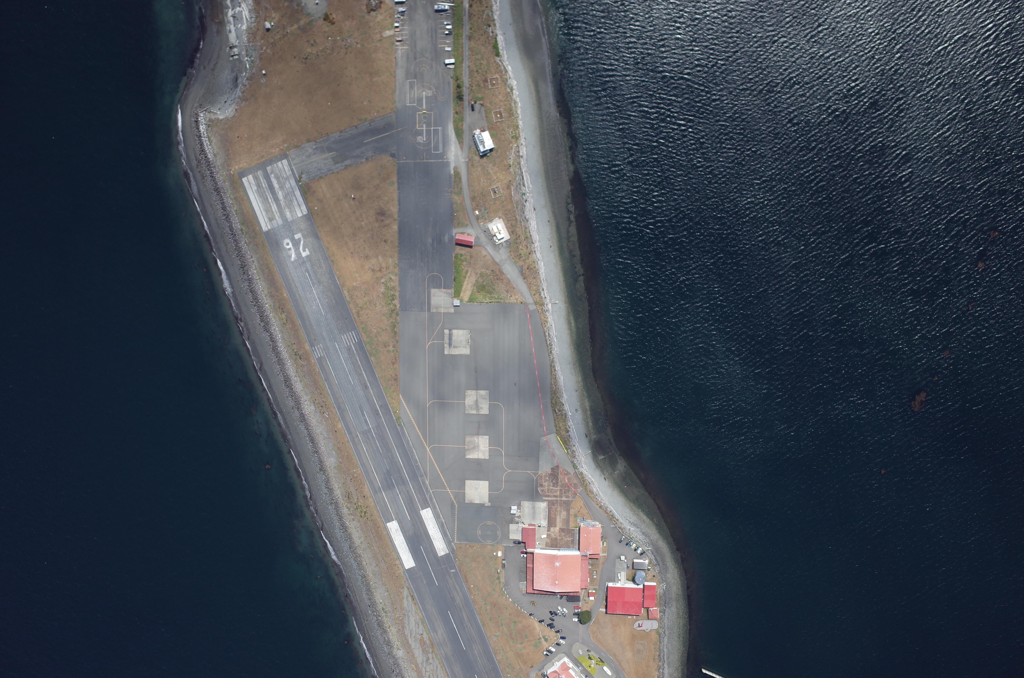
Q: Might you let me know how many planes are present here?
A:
none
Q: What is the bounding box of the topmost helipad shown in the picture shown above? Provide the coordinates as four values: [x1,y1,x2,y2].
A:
[431,289,454,313]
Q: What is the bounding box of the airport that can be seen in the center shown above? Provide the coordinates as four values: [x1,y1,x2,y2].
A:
[238,0,583,678]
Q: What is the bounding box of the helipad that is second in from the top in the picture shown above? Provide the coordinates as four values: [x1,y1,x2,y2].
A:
[444,330,470,354]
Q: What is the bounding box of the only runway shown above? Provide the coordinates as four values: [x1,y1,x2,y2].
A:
[238,150,504,678]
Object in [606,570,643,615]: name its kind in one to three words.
building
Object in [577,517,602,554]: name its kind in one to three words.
building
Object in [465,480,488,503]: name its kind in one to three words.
helipad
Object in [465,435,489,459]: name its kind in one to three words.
helipad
